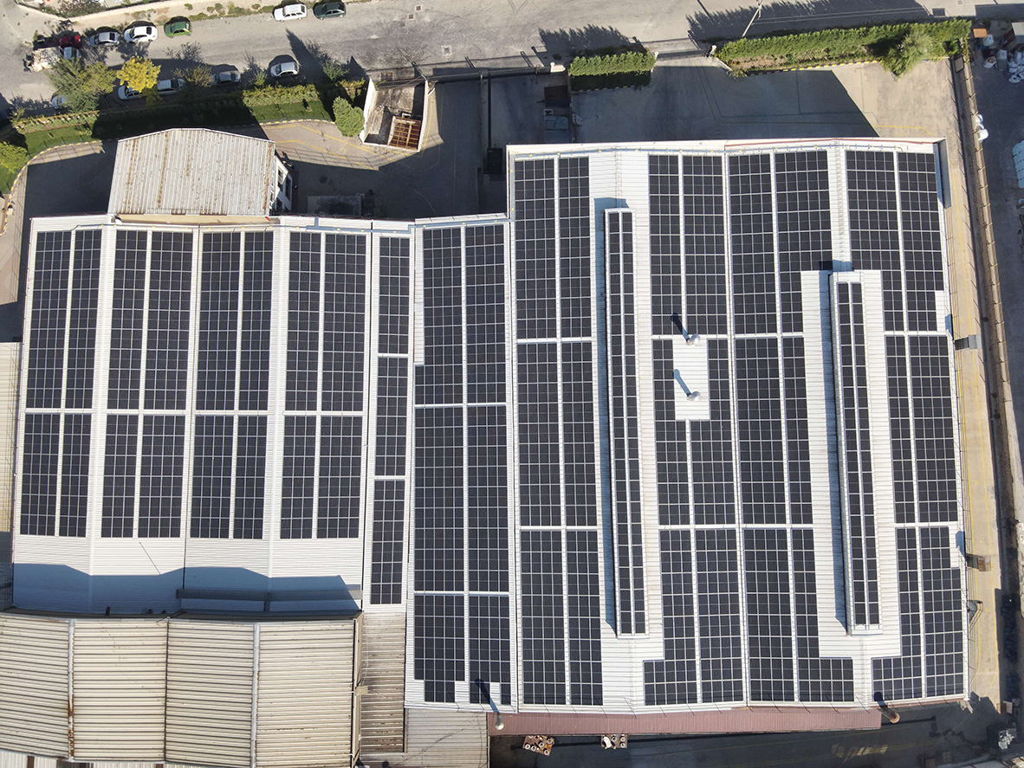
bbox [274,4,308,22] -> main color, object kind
white car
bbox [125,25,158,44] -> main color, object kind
white car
